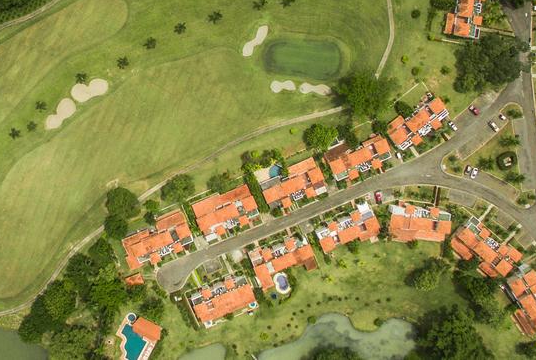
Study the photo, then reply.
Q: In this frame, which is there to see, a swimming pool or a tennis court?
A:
swimming pool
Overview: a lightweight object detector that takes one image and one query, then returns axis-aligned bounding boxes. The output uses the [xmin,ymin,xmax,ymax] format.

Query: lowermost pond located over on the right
[257,312,422,360]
